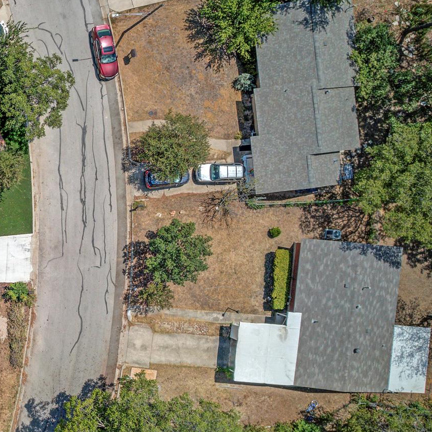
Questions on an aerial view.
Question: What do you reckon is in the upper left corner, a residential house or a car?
car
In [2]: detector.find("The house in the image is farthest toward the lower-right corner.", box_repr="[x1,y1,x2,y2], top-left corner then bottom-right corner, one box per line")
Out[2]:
[222,238,431,393]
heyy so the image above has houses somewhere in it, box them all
[222,238,431,393]
[242,0,361,194]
